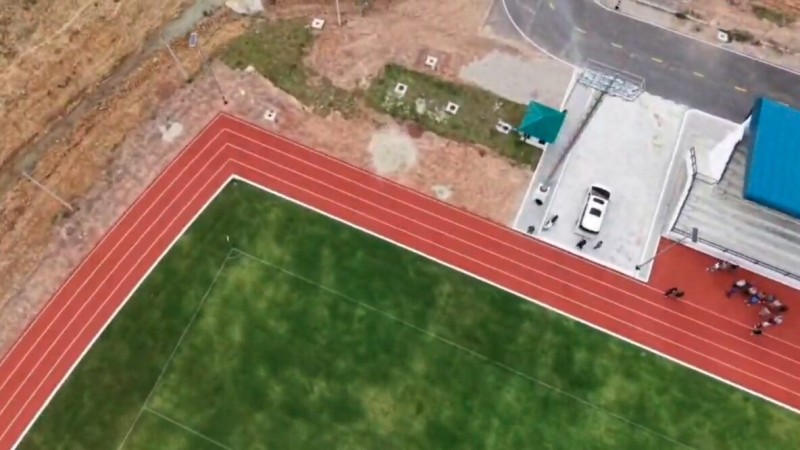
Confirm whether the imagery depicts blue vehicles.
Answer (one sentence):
No, the scene contains no blue vehicle.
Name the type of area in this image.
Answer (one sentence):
The area seen from above is a sports ground.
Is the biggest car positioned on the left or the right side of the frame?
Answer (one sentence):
The biggest car is on the right side of the image.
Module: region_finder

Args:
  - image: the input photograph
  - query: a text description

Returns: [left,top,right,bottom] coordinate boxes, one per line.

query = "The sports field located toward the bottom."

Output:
[12,177,800,450]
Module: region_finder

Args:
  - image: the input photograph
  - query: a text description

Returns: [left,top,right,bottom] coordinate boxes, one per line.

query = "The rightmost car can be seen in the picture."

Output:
[576,186,611,240]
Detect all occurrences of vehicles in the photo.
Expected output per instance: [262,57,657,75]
[541,214,557,230]
[576,186,611,240]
